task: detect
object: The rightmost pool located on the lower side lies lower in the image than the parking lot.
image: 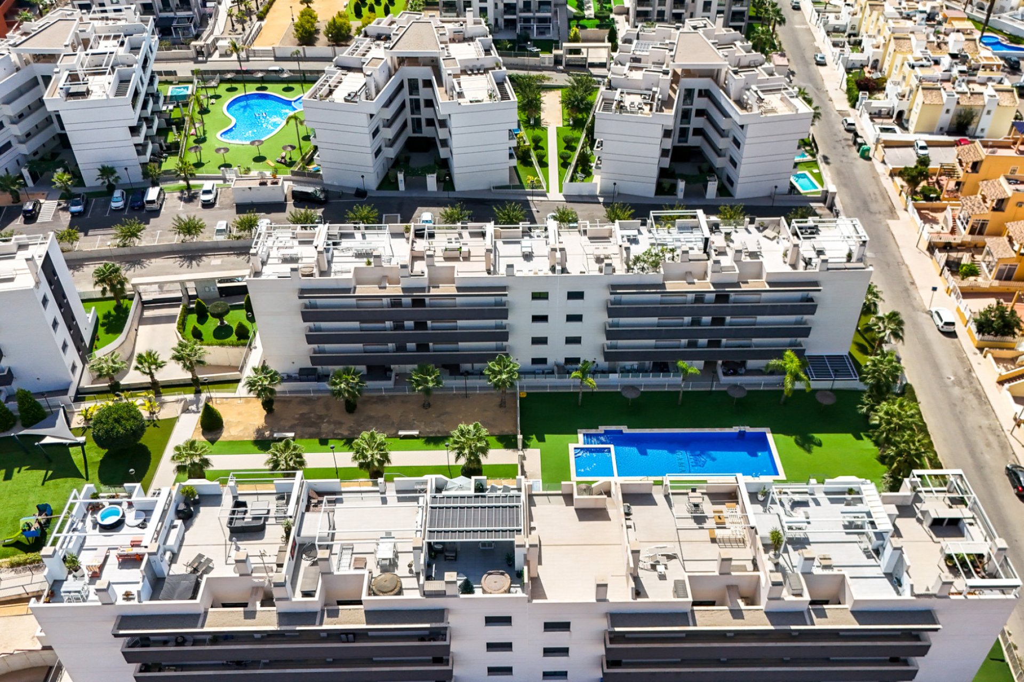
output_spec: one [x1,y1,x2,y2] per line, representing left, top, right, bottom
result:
[569,424,787,481]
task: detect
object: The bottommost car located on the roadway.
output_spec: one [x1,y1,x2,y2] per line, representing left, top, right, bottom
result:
[1001,465,1024,500]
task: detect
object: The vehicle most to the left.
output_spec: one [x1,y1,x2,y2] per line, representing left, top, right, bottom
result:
[16,199,43,219]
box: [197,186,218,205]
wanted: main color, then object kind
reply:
white vehicle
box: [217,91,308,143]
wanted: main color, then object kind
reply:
blue swimming pool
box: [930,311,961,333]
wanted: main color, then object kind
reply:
white car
